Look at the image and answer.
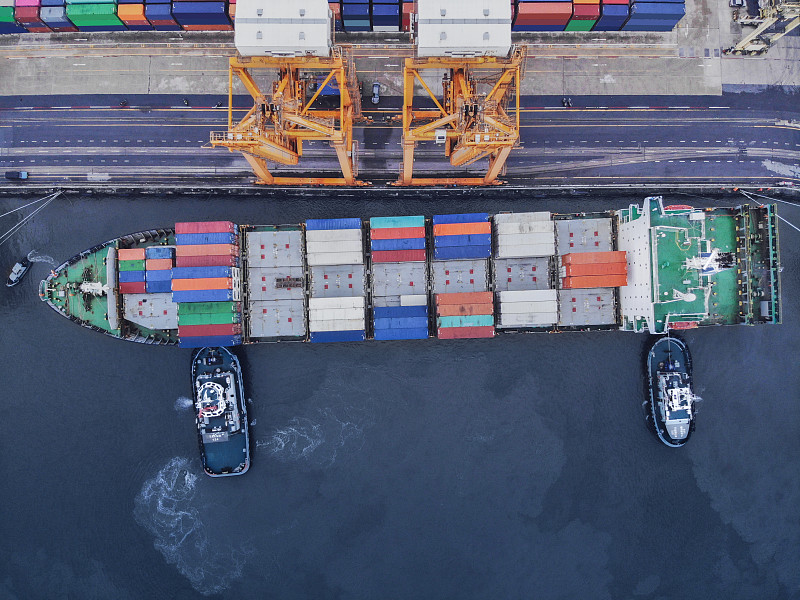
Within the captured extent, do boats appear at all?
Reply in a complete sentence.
Yes, a boat appears in the view.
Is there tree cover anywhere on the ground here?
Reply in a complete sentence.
No, the picture contains no tree cover.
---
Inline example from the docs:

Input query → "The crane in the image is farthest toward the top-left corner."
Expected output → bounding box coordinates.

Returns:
[208,0,370,184]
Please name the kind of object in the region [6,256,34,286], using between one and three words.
boat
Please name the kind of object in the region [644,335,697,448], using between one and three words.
boat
